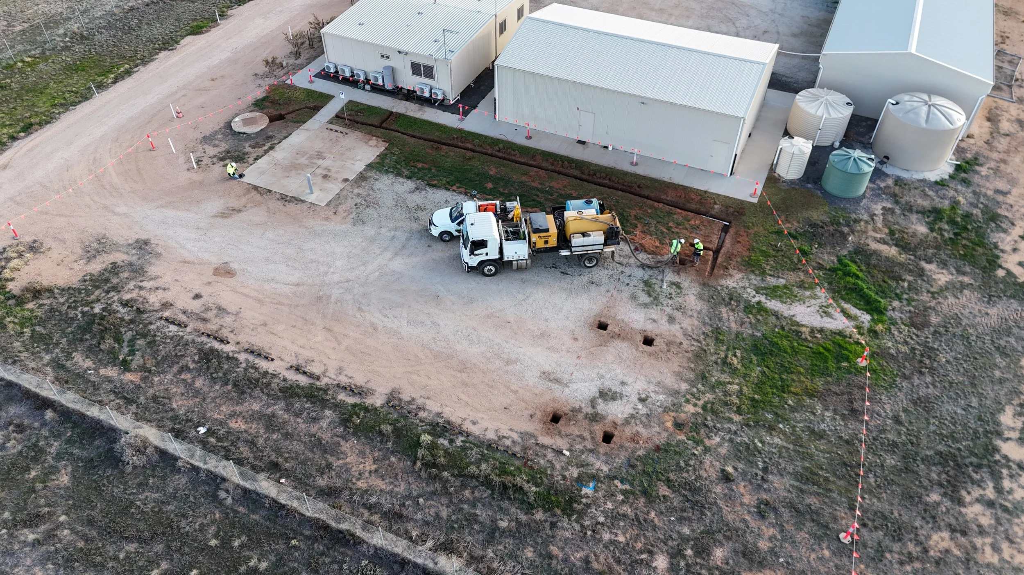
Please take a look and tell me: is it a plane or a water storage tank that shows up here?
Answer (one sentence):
The image shows a water storage tank.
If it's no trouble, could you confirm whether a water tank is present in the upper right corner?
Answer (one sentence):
Yes, a water tank is visible in the upper right corner.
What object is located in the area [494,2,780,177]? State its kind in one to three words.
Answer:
shed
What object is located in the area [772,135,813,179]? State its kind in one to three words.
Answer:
water tank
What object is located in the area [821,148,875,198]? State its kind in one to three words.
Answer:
water tank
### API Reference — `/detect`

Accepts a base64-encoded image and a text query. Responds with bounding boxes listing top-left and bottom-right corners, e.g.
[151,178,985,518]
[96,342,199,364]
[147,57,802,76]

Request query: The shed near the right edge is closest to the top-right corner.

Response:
[812,0,997,137]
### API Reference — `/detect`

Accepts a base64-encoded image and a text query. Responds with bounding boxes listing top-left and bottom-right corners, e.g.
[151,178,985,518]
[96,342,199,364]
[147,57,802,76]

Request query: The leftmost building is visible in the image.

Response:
[319,0,533,103]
